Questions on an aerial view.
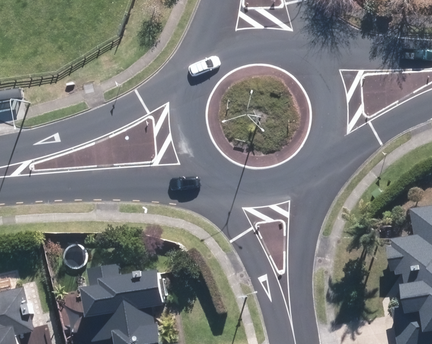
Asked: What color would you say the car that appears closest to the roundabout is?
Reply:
white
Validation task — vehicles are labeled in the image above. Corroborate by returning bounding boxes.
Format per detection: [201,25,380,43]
[186,56,222,76]
[168,178,200,194]
[402,46,432,62]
